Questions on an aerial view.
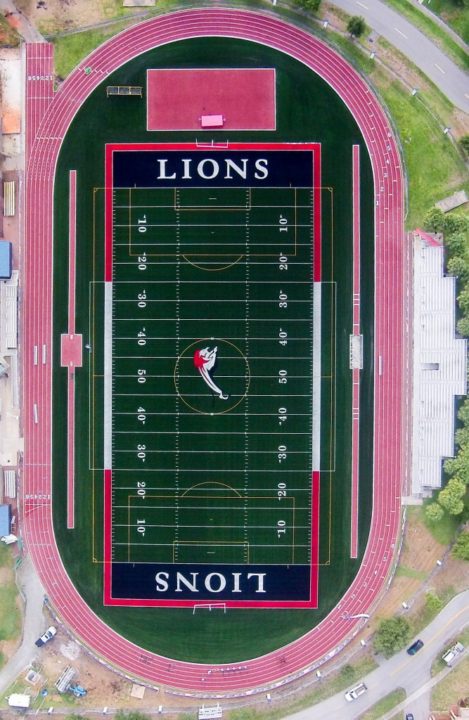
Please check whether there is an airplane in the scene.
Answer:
No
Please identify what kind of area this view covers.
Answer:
sports ground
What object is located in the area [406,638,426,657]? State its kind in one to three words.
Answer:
car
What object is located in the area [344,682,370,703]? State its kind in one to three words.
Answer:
truck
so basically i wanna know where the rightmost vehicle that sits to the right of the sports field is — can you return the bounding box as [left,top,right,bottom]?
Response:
[441,642,467,669]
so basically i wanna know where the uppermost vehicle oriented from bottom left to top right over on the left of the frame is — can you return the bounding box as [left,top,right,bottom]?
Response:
[32,625,58,650]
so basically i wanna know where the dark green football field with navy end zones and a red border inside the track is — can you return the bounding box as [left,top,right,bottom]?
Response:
[52,37,373,664]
